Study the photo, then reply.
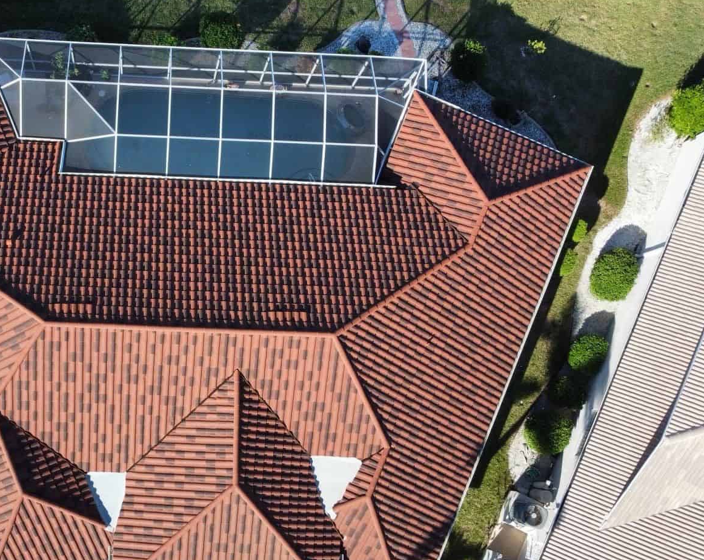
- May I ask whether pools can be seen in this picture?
Yes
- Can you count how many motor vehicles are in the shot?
zero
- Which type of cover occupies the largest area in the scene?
buildings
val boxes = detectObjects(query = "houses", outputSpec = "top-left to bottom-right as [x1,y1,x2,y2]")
[531,124,704,560]
[0,88,596,560]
